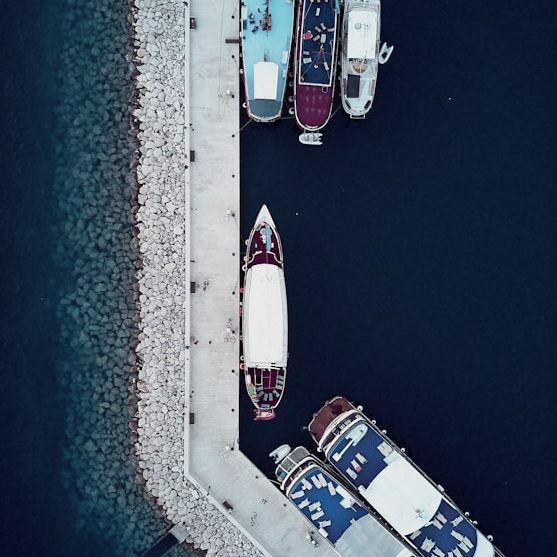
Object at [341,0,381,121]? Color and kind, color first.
white boat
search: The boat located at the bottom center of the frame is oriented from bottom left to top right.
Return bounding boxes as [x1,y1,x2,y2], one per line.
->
[268,443,291,463]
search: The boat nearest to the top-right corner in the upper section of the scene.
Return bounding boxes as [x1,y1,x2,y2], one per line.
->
[380,41,394,64]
